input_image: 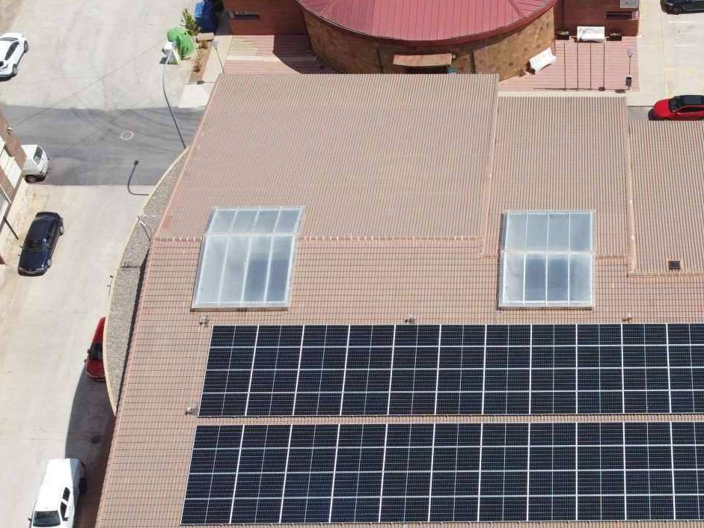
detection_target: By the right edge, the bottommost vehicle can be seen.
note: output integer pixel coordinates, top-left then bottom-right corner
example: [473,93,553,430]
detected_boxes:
[653,86,704,120]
